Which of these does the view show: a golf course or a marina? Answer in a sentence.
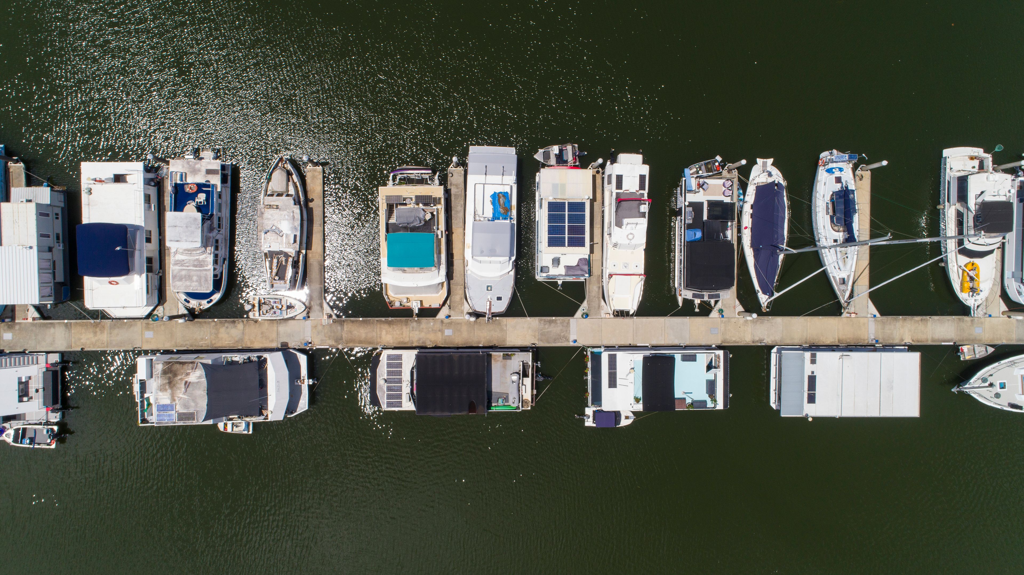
The picture captures a marina.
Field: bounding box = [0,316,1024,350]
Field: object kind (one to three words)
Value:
pier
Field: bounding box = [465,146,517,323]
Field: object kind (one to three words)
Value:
boat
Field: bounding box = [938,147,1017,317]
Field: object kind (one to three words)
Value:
boat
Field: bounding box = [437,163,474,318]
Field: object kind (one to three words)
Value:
pier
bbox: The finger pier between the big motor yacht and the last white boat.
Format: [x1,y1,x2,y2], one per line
[977,245,1008,316]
